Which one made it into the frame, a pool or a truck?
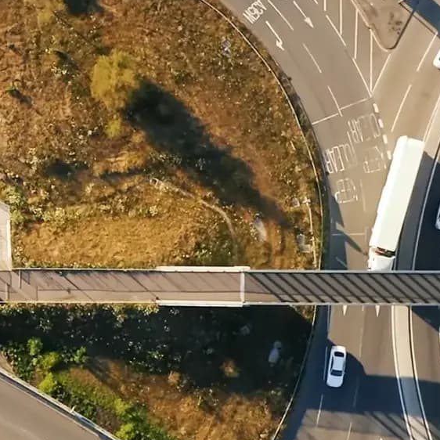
truck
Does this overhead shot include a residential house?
No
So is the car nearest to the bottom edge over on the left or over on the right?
right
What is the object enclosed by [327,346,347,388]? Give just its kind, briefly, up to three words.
car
